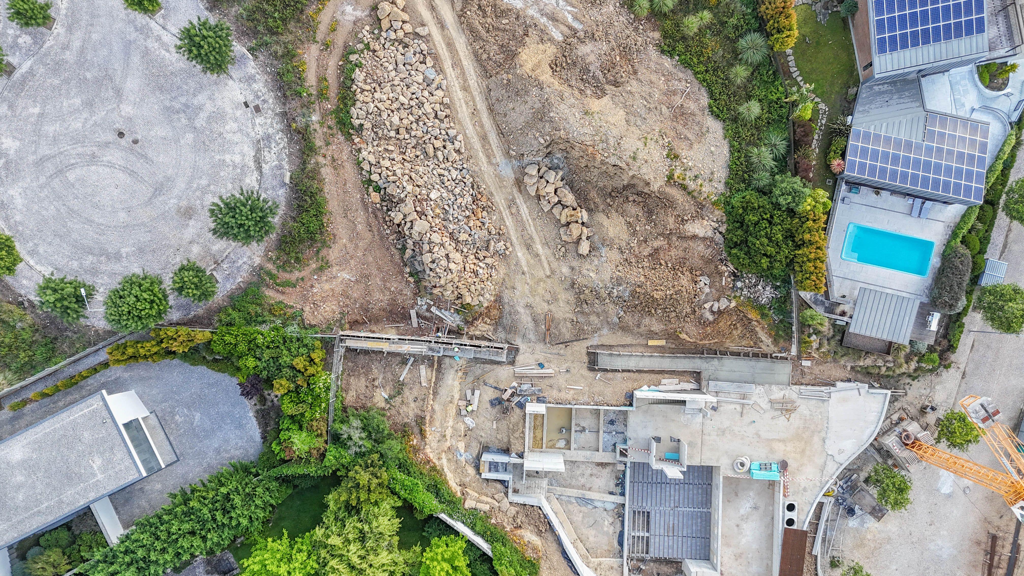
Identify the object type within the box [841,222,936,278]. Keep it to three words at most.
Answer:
swimming pool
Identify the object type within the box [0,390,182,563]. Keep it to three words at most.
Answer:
house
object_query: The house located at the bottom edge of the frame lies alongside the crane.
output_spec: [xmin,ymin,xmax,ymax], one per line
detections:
[480,383,891,576]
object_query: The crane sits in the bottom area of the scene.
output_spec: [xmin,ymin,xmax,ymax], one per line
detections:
[904,394,1024,524]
